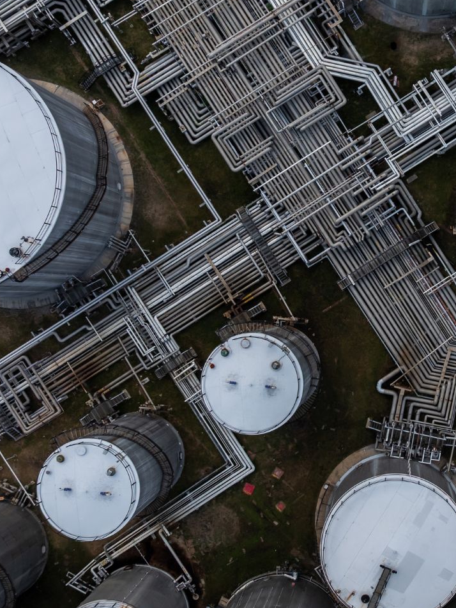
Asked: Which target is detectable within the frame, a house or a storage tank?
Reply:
storage tank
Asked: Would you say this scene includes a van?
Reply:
No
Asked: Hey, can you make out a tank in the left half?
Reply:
Yes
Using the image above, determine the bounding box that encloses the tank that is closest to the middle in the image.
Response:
[196,318,327,437]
